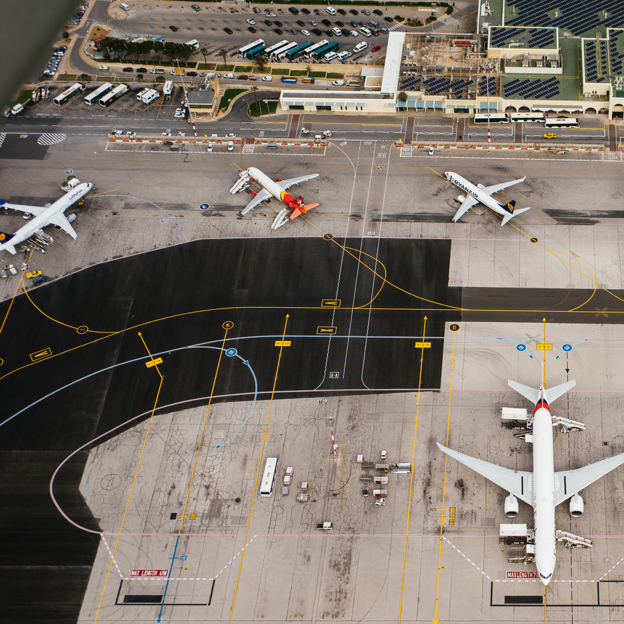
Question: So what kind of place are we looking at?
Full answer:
It's an airport.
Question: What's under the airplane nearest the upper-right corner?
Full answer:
From above, the airplane nearest the upper-right corner can be seen on the apron.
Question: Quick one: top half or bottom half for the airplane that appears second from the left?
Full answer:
Seen from above, the airplane that appears second from the left lies in the top half of the view.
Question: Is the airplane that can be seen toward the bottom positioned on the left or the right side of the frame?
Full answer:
It is on the right.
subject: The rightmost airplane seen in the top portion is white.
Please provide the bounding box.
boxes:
[445,172,527,225]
